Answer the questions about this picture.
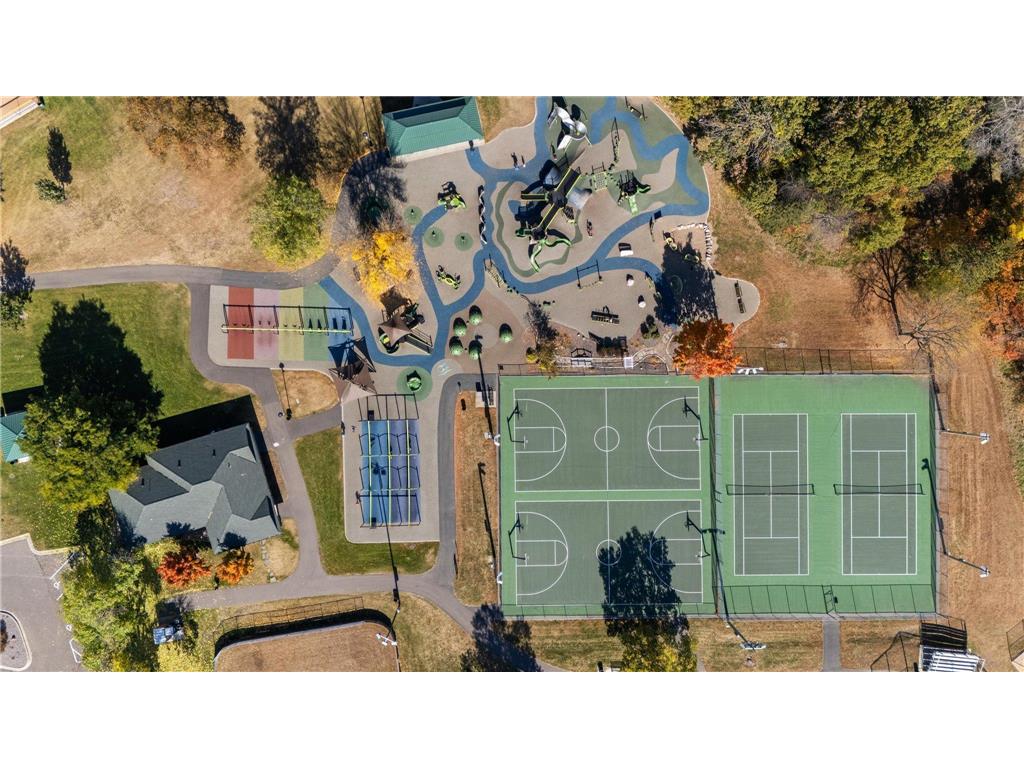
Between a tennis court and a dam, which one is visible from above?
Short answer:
tennis court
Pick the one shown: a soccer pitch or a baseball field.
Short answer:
baseball field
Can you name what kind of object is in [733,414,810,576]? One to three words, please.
tennis court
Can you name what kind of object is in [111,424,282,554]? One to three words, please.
house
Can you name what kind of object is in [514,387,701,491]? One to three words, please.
basketball court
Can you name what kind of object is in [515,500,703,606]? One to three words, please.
basketball court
